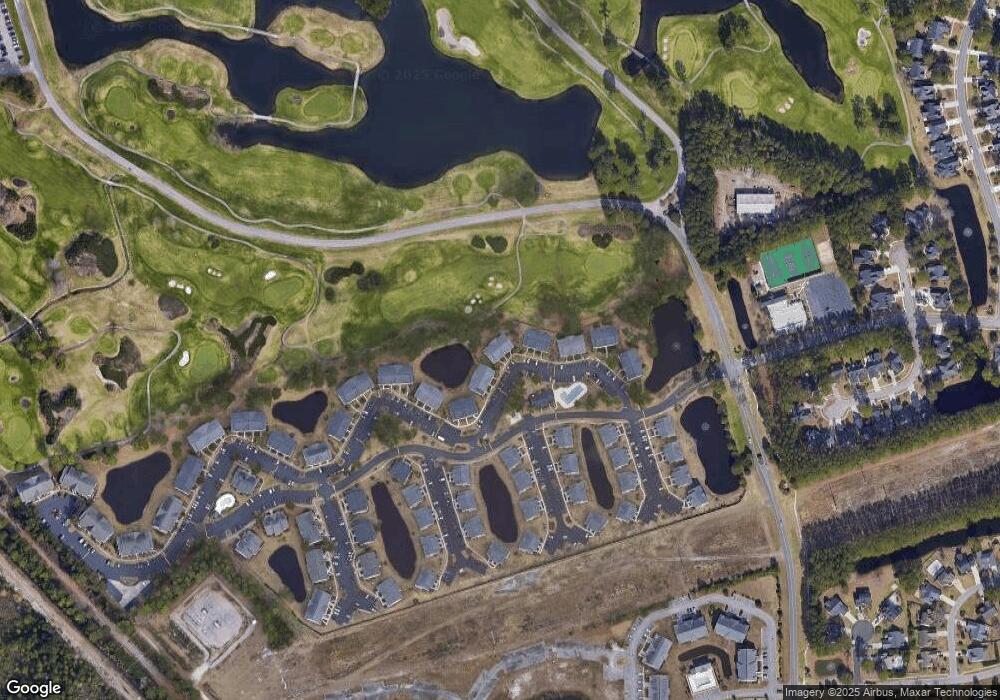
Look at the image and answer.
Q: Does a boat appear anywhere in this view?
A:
No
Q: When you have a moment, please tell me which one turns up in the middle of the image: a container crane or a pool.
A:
pool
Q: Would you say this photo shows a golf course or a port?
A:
golf course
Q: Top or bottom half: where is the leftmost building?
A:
bottom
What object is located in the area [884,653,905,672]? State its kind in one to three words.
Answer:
house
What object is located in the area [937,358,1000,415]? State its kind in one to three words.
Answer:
pond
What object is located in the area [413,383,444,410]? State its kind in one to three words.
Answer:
building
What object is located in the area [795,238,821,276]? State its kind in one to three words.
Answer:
tennis court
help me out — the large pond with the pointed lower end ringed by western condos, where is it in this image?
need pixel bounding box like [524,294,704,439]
[103,450,171,523]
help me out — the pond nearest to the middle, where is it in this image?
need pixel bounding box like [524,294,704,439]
[421,344,474,388]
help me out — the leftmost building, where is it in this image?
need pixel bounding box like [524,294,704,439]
[16,471,55,503]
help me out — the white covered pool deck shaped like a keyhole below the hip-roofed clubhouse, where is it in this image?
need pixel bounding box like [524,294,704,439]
[216,493,235,513]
